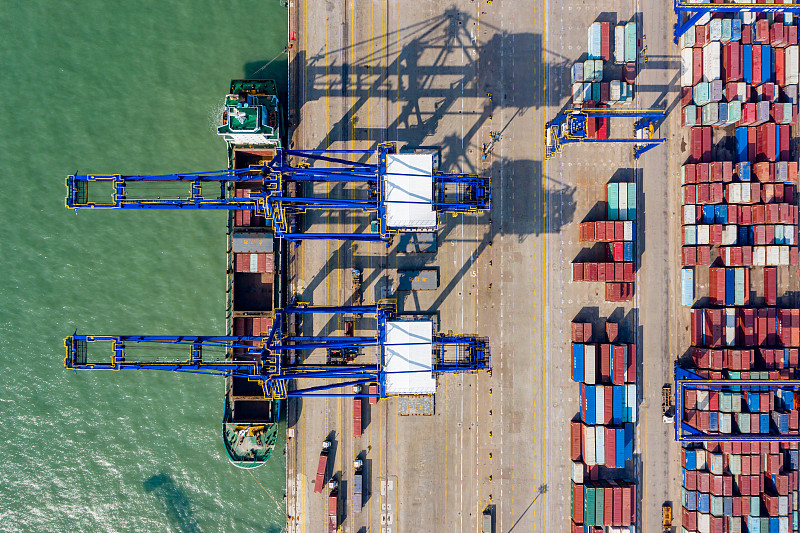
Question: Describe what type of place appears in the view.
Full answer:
It's a port.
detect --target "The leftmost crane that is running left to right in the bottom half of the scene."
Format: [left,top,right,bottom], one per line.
[65,290,489,406]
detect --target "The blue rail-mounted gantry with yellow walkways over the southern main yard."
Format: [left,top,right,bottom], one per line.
[673,360,800,439]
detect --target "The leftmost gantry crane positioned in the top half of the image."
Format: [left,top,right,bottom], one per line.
[65,139,489,253]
